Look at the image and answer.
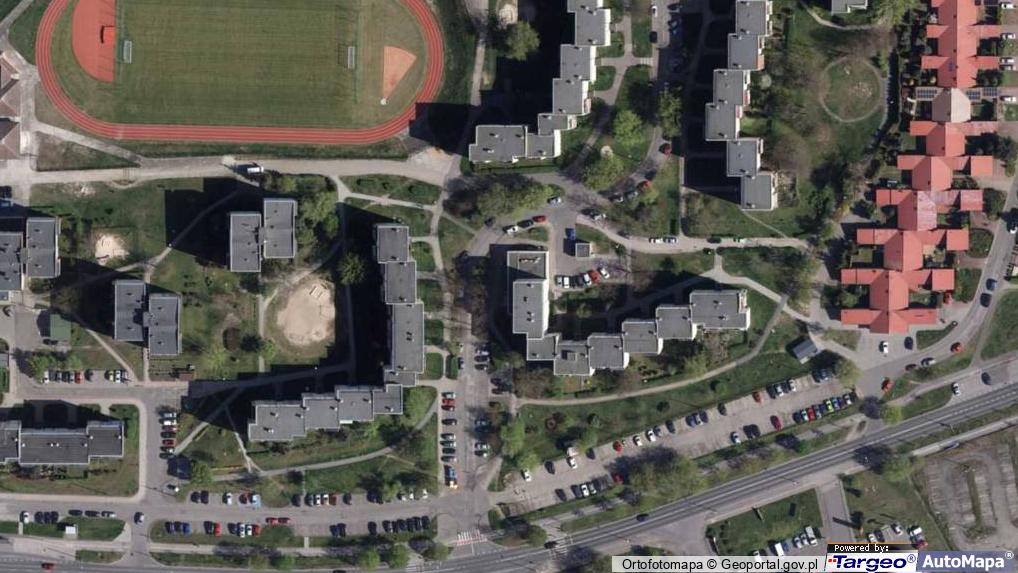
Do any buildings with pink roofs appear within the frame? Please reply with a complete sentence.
Yes, the frame does contain a building with a pink roof.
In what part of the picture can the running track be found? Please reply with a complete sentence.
Look in the top left portion of the view to spot the running track.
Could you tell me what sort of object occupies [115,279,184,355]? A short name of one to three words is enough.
building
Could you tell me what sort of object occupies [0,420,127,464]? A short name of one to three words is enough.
building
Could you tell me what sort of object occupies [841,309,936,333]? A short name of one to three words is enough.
house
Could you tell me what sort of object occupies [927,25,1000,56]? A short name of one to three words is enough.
house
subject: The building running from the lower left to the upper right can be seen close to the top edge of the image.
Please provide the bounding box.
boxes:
[469,0,609,164]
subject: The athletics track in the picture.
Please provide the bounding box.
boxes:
[35,0,444,144]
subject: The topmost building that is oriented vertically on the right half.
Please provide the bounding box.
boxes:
[702,0,775,210]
